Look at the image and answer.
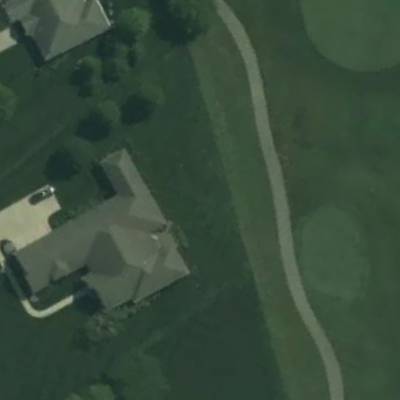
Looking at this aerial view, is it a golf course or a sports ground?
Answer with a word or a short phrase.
golf course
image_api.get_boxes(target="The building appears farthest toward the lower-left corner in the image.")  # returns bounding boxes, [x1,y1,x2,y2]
[15,150,190,313]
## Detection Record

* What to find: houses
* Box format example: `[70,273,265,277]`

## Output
[15,150,190,313]
[0,0,110,60]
